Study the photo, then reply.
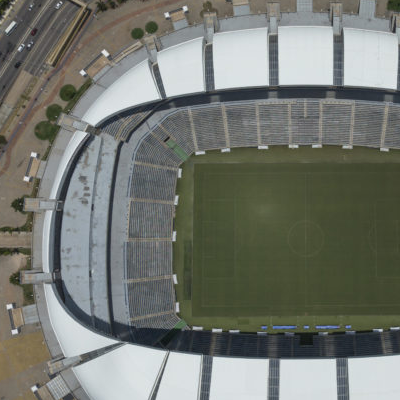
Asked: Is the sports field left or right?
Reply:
right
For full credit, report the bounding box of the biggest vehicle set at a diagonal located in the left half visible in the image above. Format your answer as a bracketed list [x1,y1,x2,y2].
[3,19,20,38]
